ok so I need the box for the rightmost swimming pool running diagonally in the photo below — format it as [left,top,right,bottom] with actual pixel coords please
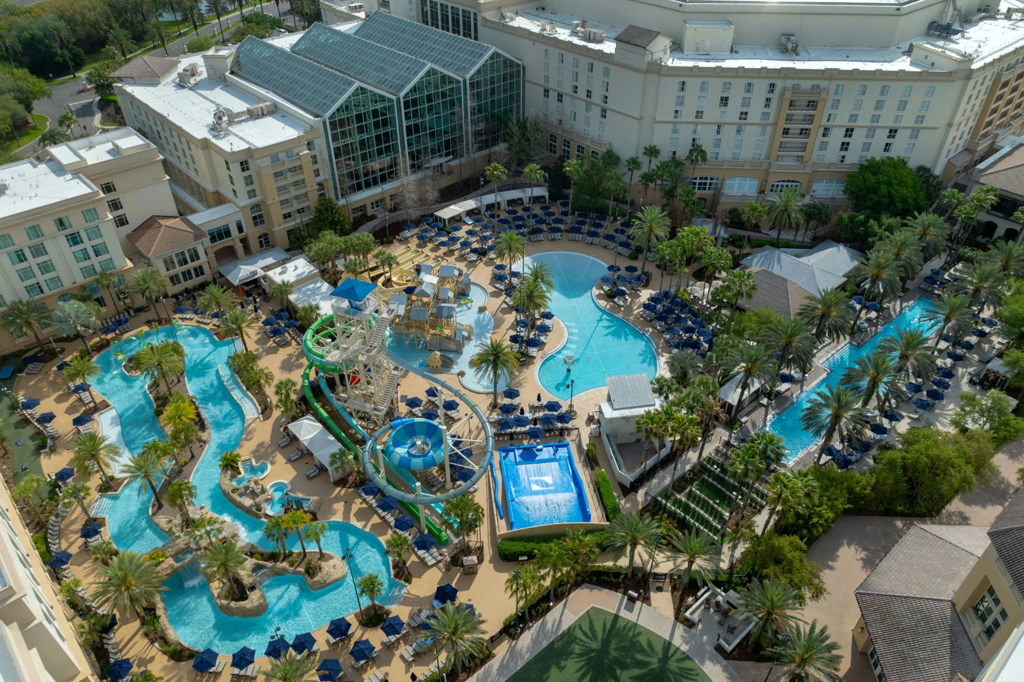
[770,297,943,465]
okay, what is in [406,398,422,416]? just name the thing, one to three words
umbrella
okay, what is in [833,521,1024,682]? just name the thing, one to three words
building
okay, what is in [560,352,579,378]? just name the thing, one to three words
fountain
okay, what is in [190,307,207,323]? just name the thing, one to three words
umbrella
